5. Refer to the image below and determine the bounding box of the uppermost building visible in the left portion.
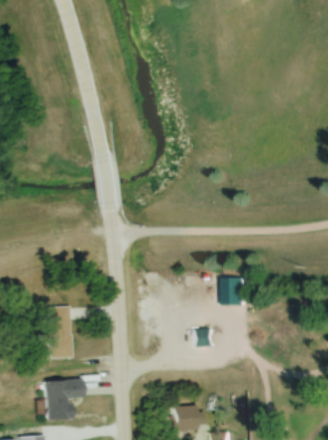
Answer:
[51,306,73,358]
